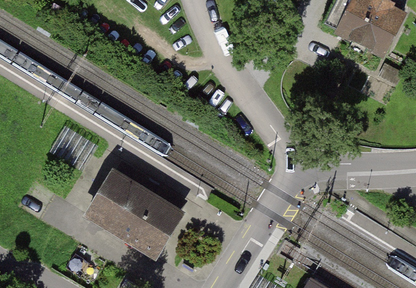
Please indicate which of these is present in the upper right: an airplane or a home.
home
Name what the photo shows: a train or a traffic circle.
train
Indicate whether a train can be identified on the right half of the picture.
Yes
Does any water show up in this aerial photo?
No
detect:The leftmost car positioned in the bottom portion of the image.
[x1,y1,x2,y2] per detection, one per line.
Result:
[21,197,43,213]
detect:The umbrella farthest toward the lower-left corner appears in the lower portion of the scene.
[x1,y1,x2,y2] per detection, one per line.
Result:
[68,258,83,272]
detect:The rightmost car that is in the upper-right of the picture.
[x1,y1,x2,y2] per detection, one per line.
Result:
[307,42,331,57]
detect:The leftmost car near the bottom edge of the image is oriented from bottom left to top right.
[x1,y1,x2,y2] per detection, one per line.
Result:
[234,250,252,274]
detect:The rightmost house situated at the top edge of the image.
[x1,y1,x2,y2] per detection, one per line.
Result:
[334,0,406,58]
